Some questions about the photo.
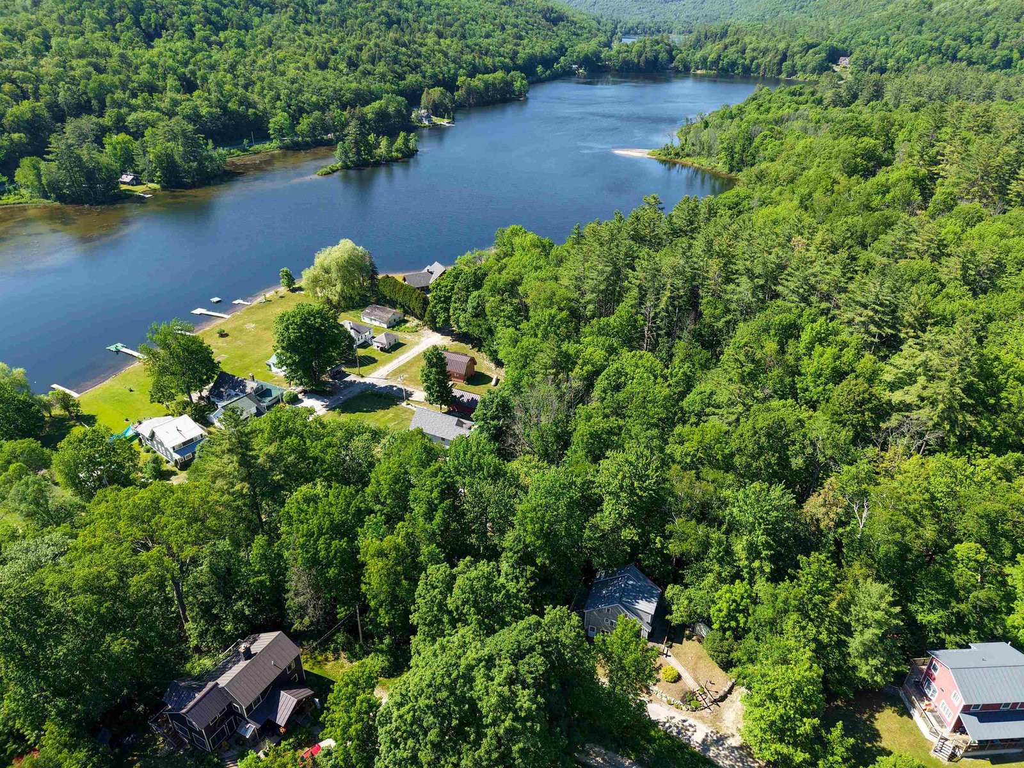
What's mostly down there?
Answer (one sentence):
For the most part, this view shows trees.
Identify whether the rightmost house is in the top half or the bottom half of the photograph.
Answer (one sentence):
The rightmost house is in the bottom half of the image.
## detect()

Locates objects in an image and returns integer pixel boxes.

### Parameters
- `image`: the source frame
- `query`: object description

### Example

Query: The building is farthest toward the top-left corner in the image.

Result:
[113,171,141,187]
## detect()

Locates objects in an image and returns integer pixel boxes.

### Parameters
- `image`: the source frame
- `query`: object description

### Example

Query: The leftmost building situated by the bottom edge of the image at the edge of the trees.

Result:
[143,631,315,758]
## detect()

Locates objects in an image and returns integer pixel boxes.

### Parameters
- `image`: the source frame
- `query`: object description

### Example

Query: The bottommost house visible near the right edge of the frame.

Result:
[895,639,1024,761]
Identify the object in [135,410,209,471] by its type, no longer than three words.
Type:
house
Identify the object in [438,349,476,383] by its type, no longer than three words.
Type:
barn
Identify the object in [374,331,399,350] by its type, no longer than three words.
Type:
shed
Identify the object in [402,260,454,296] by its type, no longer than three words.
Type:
house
